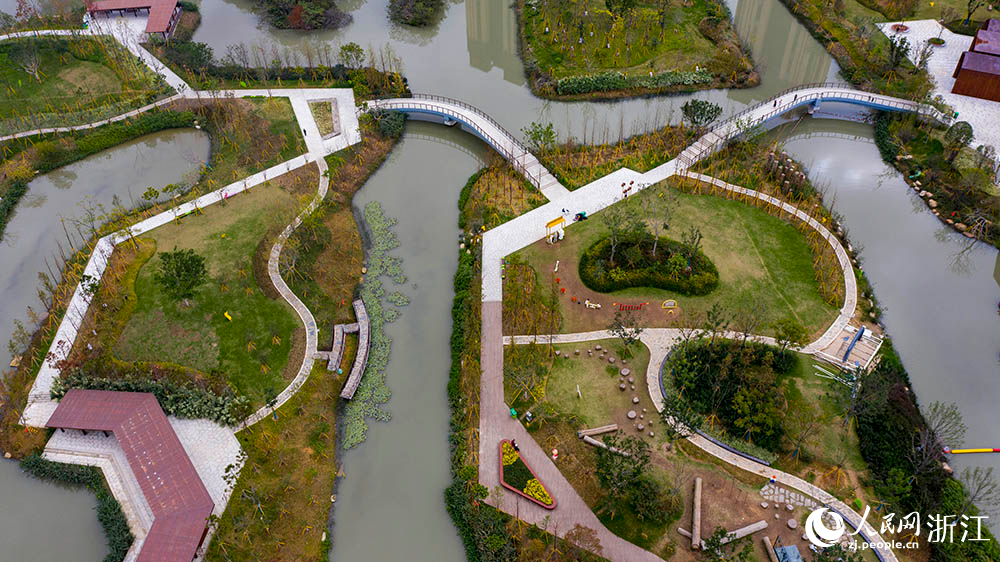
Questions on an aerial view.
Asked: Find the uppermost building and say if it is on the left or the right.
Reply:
left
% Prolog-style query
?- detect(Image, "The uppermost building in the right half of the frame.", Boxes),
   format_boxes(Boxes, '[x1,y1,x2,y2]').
[952,17,1000,102]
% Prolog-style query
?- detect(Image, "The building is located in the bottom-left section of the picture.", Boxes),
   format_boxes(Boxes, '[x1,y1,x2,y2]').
[46,389,218,562]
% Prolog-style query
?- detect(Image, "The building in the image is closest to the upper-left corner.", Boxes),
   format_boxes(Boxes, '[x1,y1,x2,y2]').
[88,0,181,48]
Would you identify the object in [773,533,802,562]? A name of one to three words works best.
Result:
shed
